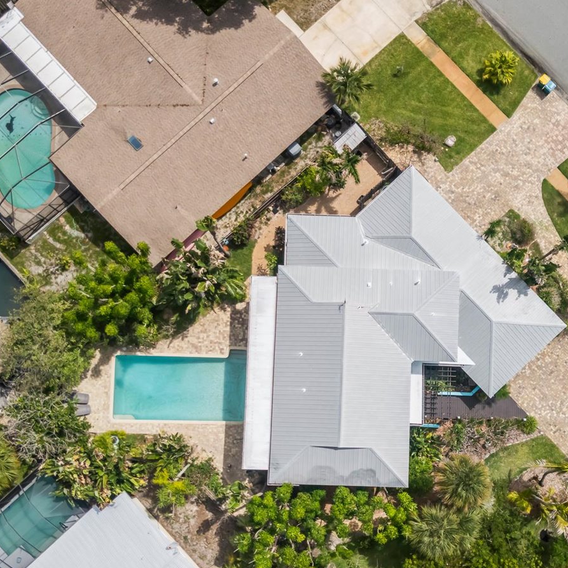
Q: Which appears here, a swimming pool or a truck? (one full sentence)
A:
I can see a swimming pool in this picture.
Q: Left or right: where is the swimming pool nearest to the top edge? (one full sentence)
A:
You can find the swimming pool nearest to the top edge on the left side of the picture.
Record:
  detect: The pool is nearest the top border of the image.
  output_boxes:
[0,84,59,212]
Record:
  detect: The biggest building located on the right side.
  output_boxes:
[242,164,567,489]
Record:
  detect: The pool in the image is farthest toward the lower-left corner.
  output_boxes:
[0,470,92,559]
